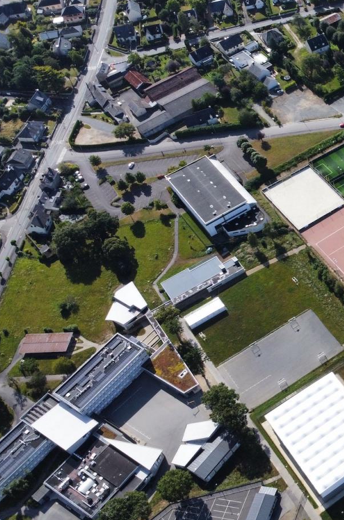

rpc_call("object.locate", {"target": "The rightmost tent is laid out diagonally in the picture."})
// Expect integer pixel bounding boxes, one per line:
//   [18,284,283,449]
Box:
[185,297,226,330]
